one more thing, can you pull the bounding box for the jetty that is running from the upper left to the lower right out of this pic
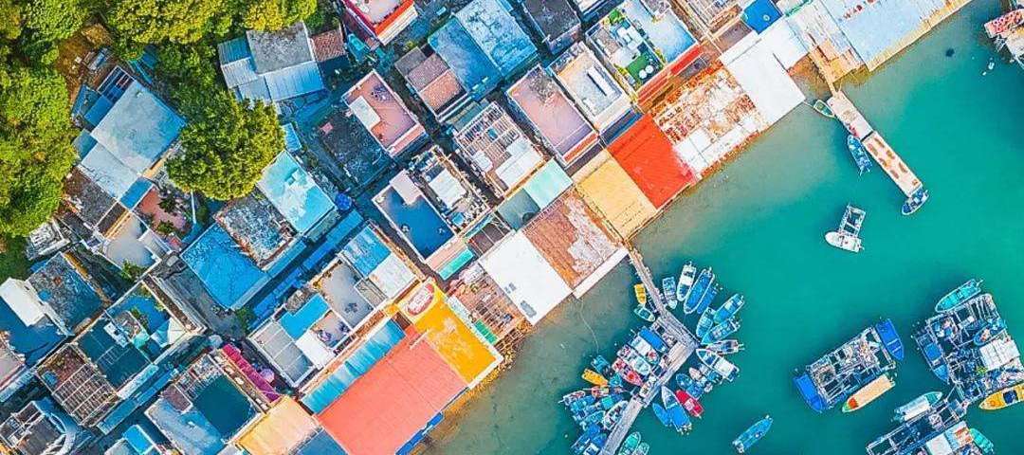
[808,52,921,196]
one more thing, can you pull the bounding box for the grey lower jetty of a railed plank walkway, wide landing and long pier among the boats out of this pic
[602,244,705,455]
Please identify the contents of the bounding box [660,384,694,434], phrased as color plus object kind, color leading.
blue boat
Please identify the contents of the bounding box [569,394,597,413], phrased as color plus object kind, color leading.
blue boat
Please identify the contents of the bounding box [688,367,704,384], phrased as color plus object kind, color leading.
white boat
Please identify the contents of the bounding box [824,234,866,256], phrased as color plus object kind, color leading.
white boat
